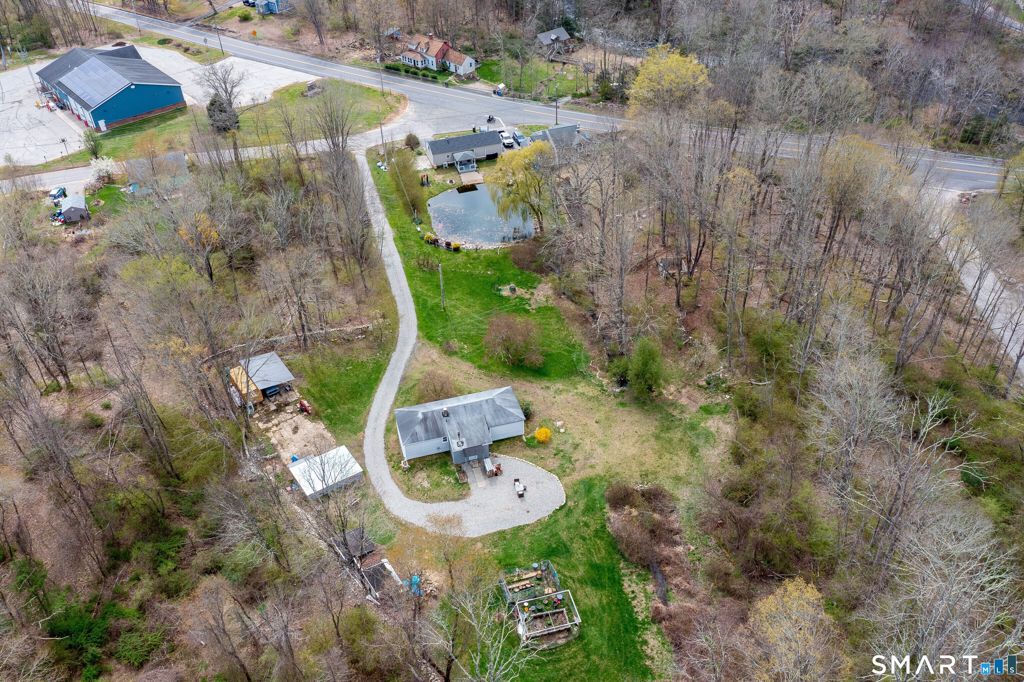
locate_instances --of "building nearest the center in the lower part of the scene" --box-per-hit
[394,384,528,471]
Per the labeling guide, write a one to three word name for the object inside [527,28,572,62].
house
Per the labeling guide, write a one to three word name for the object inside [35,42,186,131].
building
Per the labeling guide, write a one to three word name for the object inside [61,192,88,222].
shed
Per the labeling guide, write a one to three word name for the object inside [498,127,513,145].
vehicle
